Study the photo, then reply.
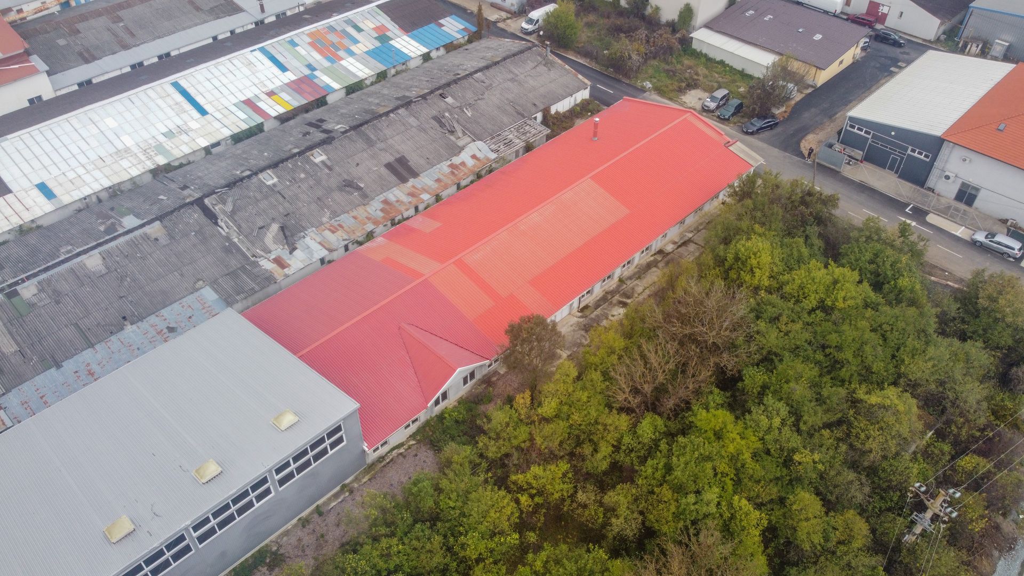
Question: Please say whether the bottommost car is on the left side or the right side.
right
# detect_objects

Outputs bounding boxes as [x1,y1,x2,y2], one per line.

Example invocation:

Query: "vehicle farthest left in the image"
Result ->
[527,0,559,31]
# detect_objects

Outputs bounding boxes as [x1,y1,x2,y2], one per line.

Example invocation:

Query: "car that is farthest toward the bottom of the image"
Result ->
[973,230,1024,260]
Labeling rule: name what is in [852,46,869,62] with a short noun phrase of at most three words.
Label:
car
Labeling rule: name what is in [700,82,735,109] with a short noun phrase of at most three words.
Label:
car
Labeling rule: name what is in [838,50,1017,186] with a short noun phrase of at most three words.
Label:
building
